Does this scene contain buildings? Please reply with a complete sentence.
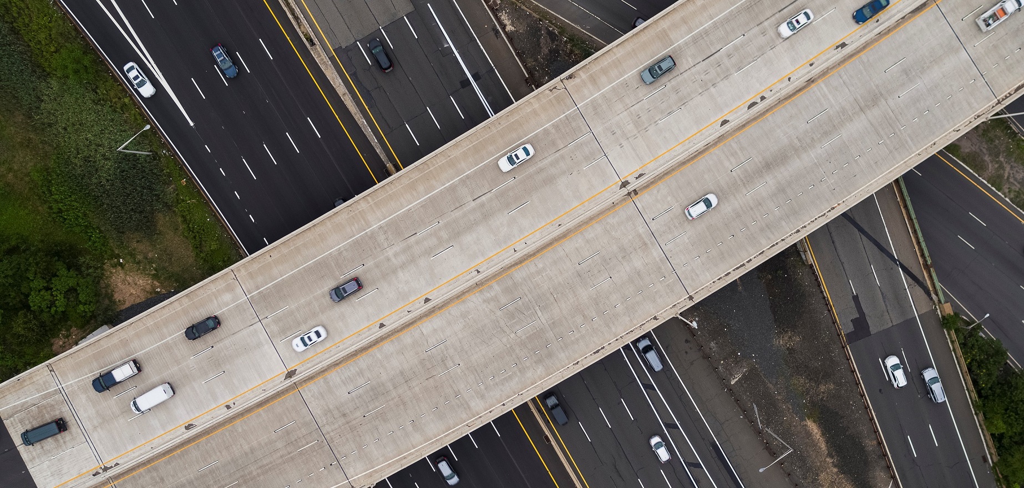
No, I can see no building in this picture.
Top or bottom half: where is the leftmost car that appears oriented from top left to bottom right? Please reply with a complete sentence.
The leftmost car that appears oriented from top left to bottom right sits in the top half of the picture.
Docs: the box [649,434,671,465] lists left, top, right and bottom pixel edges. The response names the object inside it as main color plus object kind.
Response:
white car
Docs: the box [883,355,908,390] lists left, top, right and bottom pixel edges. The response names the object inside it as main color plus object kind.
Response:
white car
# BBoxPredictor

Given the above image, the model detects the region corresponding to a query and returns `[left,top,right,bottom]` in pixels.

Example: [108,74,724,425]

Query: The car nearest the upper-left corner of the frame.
[123,62,156,99]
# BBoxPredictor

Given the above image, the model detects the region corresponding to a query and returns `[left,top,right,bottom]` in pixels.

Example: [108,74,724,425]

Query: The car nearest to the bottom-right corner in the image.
[921,368,947,404]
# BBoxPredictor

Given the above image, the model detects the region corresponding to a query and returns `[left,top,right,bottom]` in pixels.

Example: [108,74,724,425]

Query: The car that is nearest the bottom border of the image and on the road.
[434,454,460,487]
